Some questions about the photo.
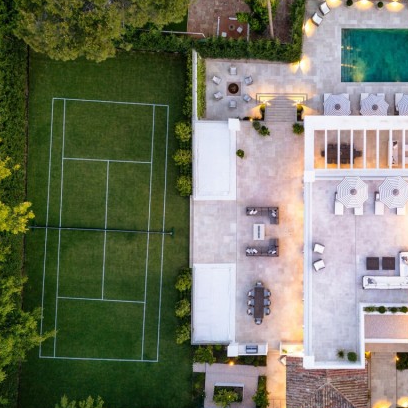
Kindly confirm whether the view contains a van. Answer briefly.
No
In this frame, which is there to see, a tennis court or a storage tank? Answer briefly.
tennis court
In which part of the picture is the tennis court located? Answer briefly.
left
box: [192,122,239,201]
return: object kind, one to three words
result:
building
